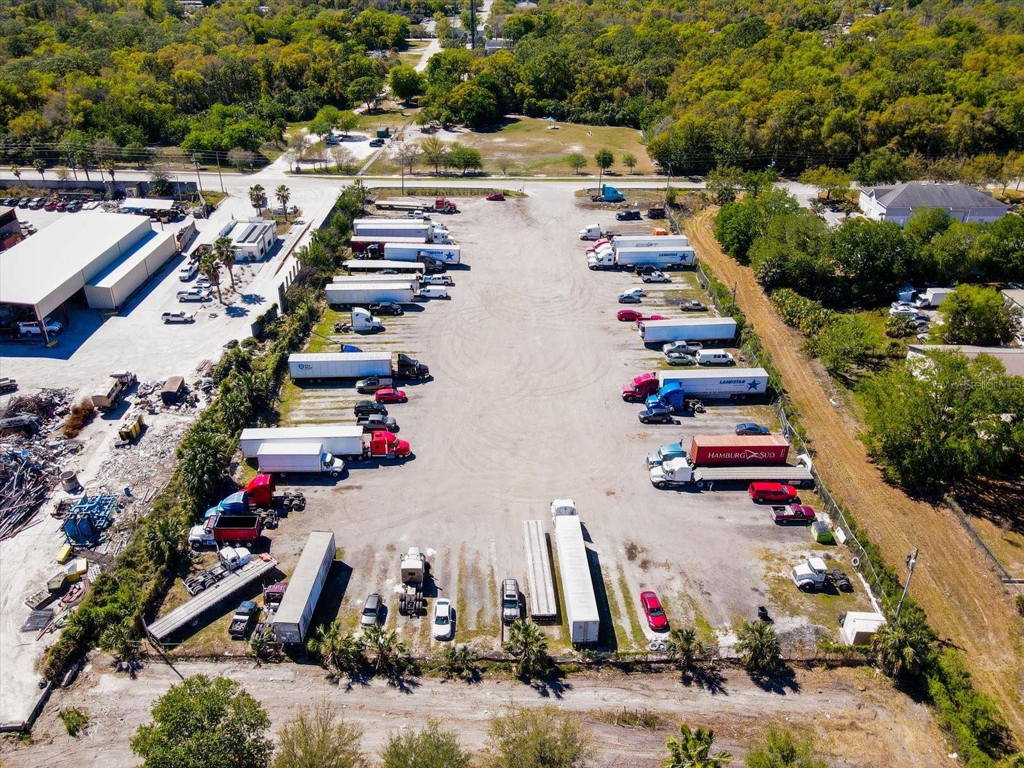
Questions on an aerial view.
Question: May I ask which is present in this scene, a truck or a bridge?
truck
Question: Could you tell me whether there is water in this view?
No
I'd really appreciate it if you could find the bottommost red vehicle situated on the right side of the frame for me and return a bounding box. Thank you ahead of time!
[641,585,668,627]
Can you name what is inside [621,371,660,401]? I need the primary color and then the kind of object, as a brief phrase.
red truck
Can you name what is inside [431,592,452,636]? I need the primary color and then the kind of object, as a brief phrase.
white car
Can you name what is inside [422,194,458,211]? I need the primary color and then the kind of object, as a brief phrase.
red vehicle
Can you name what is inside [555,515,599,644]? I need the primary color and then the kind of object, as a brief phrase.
white trailer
